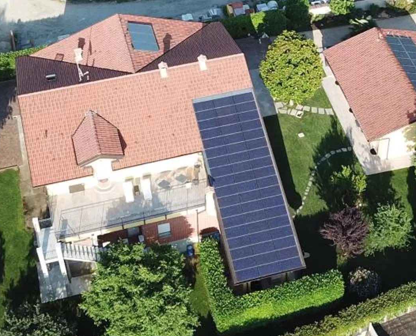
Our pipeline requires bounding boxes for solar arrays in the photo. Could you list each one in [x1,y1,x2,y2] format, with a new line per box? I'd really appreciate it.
[190,88,312,285]
[387,31,416,89]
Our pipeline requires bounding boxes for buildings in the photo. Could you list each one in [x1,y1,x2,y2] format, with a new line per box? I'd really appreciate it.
[378,312,416,336]
[16,12,316,300]
[320,25,416,160]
